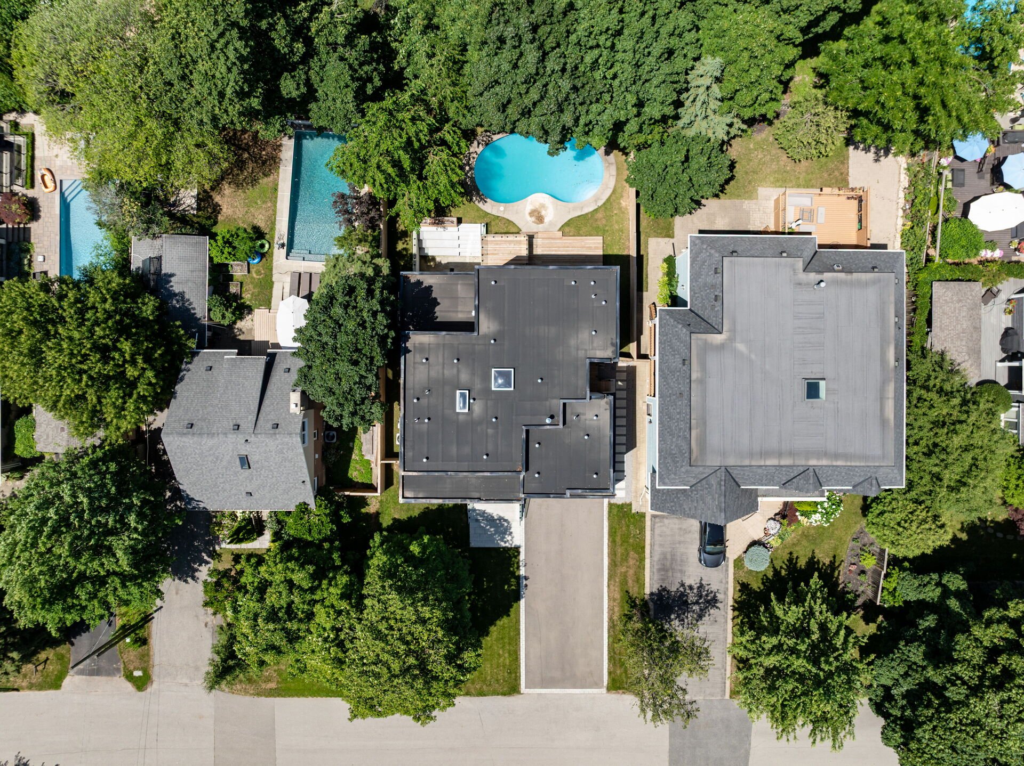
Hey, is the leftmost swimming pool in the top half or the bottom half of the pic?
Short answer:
top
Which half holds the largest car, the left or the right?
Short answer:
right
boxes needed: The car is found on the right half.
[697,519,729,567]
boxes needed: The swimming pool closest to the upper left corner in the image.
[58,177,120,292]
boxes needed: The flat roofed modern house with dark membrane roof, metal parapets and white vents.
[400,266,619,504]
